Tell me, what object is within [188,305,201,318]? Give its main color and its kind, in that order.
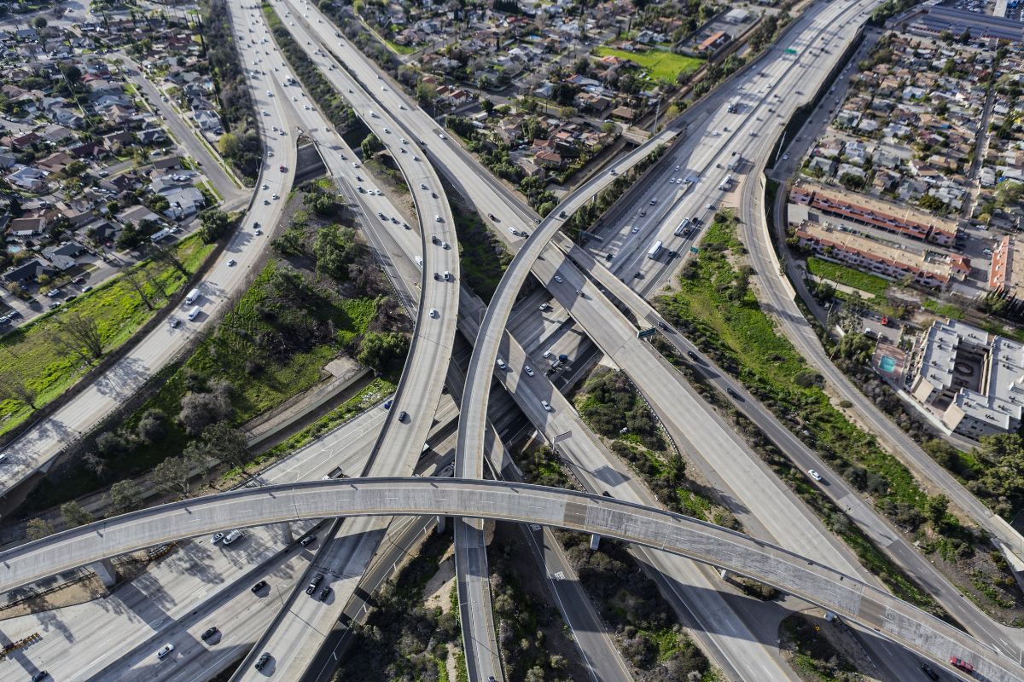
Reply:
white vehicle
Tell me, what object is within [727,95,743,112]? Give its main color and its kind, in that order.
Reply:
white vehicle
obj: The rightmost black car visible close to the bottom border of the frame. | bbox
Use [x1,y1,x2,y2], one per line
[921,662,941,682]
